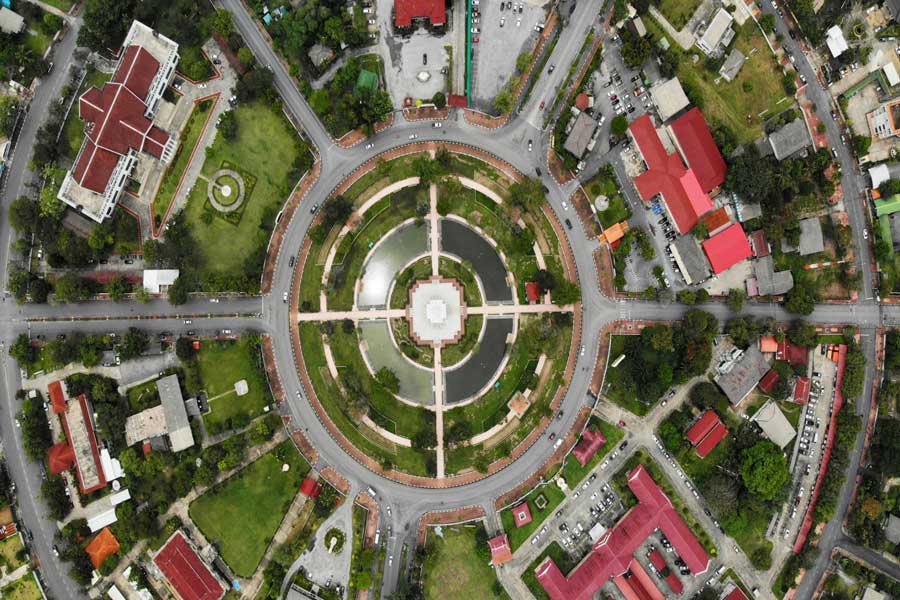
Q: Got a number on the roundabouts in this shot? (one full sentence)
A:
There is 1 roundabout in the image.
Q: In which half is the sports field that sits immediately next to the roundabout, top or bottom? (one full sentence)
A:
Seen from above, the sports field that sits immediately next to the roundabout lies in the bottom half of the view.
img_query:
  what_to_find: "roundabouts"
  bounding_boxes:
[268,114,605,514]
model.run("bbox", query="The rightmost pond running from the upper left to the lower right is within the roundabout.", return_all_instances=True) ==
[443,220,515,304]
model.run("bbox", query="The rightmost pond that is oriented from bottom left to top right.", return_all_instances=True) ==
[446,320,515,408]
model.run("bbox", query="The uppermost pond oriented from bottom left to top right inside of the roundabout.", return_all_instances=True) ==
[358,220,428,306]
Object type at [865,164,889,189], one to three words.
shed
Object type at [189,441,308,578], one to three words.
sports field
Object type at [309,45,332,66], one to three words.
building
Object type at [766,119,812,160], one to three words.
house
